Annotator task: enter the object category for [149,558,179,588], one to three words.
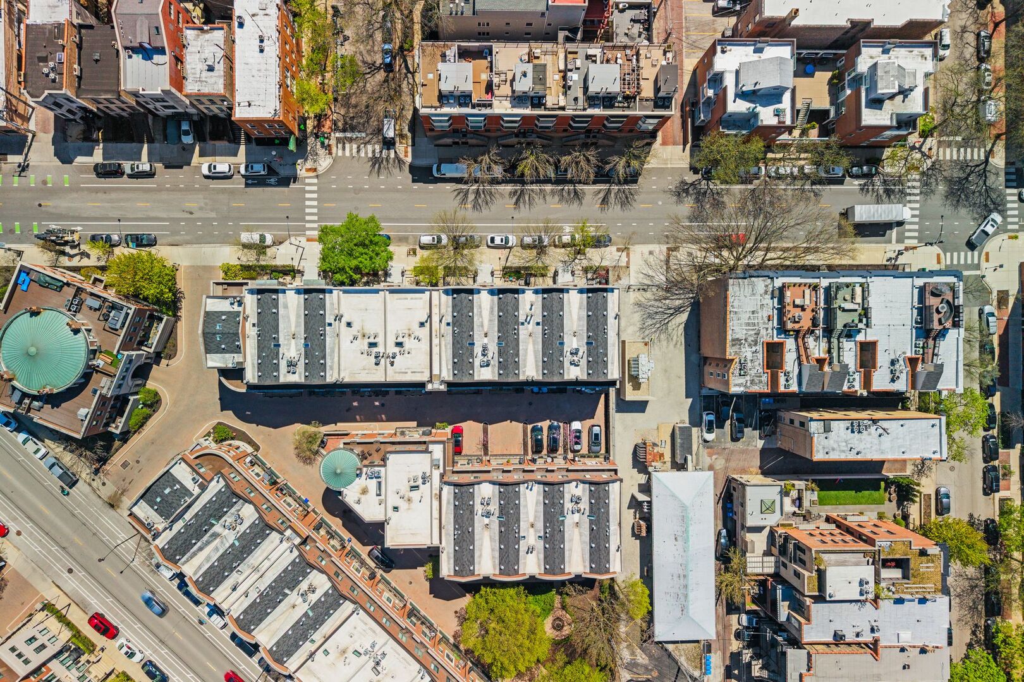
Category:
vehicle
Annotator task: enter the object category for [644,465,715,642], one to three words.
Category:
building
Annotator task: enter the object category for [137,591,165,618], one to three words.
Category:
car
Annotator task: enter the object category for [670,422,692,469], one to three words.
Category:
shed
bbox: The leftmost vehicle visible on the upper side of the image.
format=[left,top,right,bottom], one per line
[27,227,77,243]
